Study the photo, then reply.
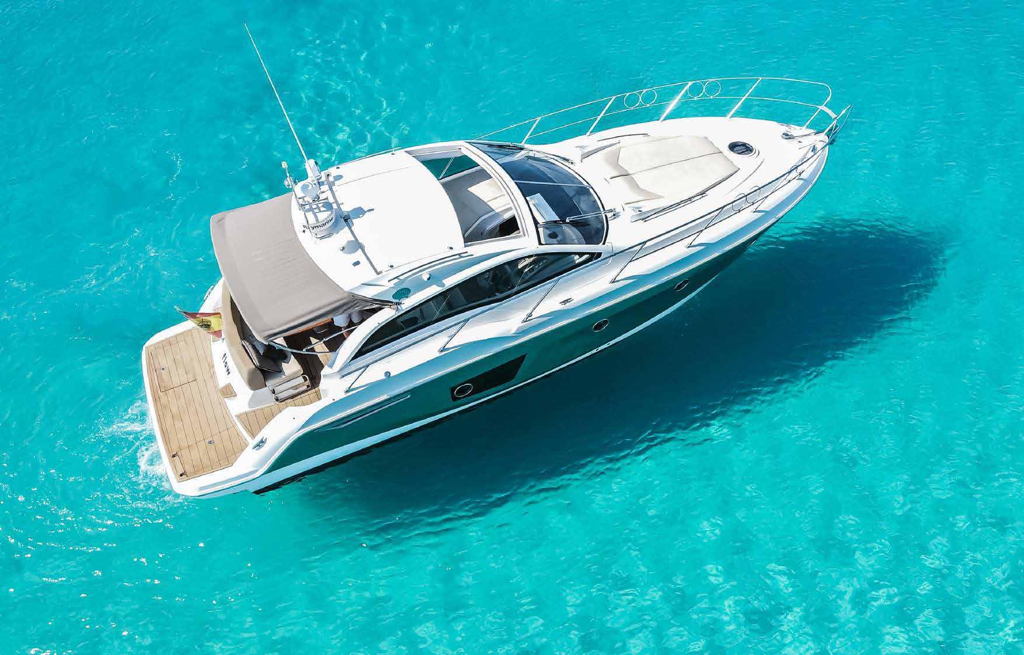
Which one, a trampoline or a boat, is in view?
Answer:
boat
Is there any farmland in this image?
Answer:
No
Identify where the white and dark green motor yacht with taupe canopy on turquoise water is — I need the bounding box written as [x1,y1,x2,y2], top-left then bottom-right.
[142,24,856,502]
